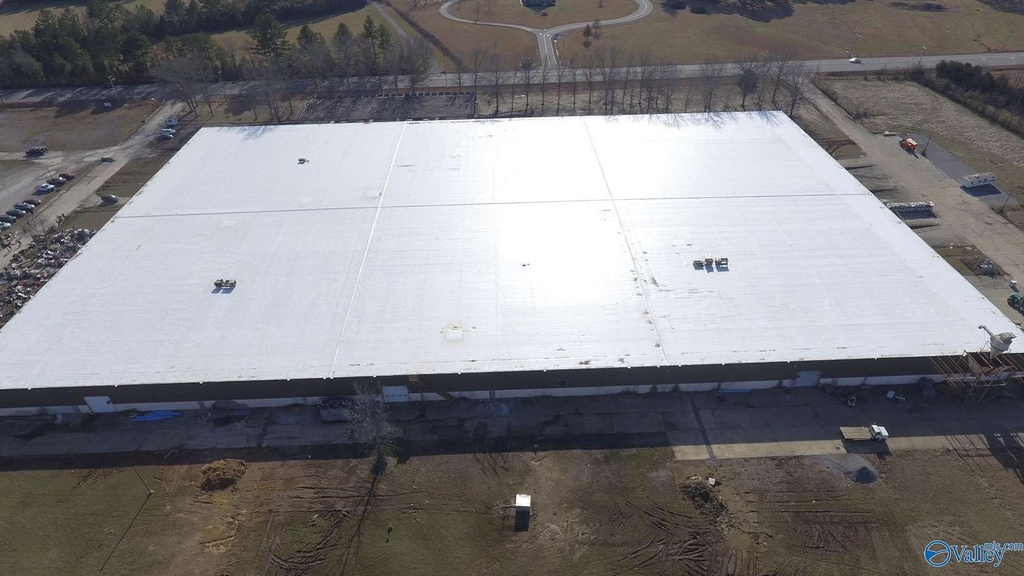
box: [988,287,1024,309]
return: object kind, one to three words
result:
work vehicle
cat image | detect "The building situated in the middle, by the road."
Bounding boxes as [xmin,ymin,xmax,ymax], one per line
[0,110,1024,416]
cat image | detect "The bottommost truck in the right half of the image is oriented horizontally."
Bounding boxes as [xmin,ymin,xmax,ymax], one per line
[838,422,894,446]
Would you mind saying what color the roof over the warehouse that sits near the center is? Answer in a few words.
white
